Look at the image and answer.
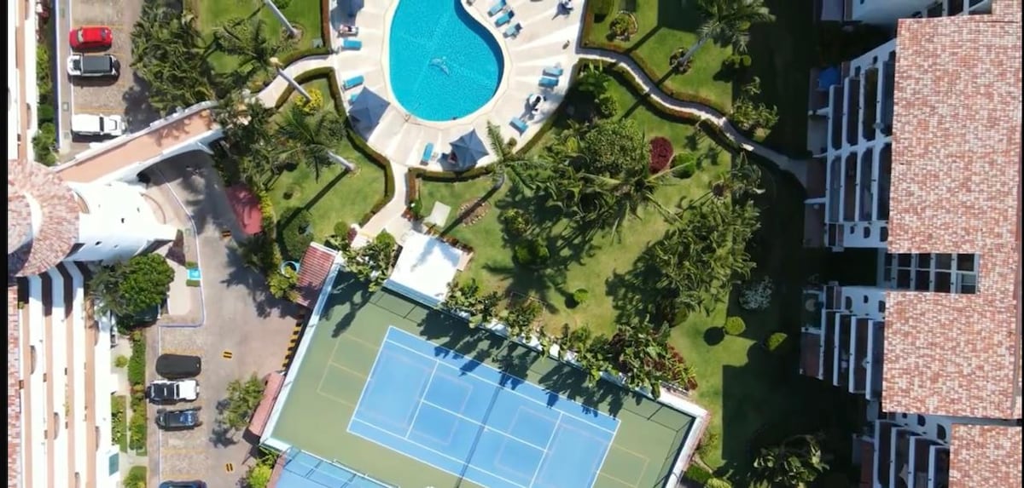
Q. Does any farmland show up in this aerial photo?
No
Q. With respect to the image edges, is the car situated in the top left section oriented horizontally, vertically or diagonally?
horizontally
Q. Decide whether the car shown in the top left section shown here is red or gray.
red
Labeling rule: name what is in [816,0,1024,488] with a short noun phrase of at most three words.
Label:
building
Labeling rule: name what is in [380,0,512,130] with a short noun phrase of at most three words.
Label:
swimming pool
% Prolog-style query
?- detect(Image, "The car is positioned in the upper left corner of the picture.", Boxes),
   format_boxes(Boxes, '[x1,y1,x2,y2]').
[66,24,110,47]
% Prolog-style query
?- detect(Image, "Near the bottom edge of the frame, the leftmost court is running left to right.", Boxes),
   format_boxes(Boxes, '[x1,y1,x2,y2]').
[243,447,364,488]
